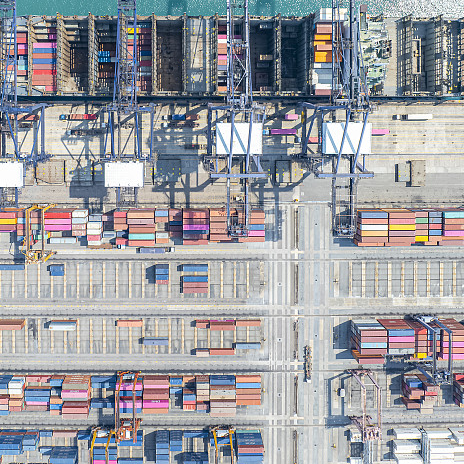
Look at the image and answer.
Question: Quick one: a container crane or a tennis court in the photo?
container crane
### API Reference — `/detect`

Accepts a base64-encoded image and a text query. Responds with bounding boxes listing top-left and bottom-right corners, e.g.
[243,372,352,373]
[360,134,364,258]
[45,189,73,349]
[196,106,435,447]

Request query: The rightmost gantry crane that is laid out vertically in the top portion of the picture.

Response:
[287,0,373,237]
